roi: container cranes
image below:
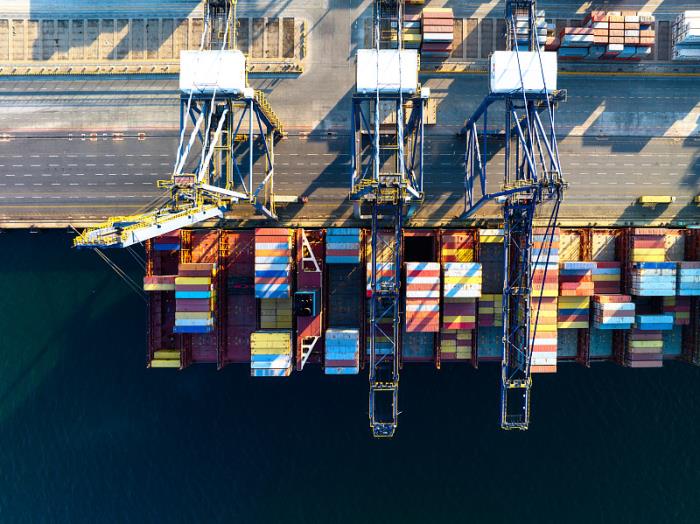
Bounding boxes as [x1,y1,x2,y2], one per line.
[347,0,432,441]
[70,0,293,249]
[446,0,572,435]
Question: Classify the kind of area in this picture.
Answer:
port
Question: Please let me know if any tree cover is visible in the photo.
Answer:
No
